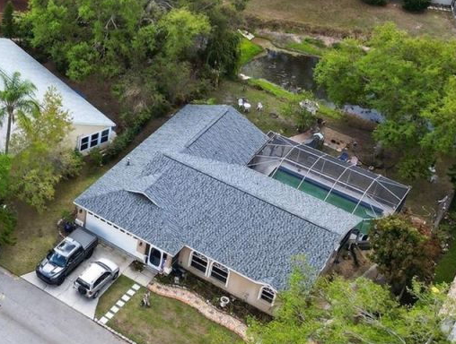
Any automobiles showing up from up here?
Yes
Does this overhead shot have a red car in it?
No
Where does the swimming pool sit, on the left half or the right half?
right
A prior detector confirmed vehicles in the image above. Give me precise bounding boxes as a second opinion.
[72,247,124,292]
[37,221,109,277]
